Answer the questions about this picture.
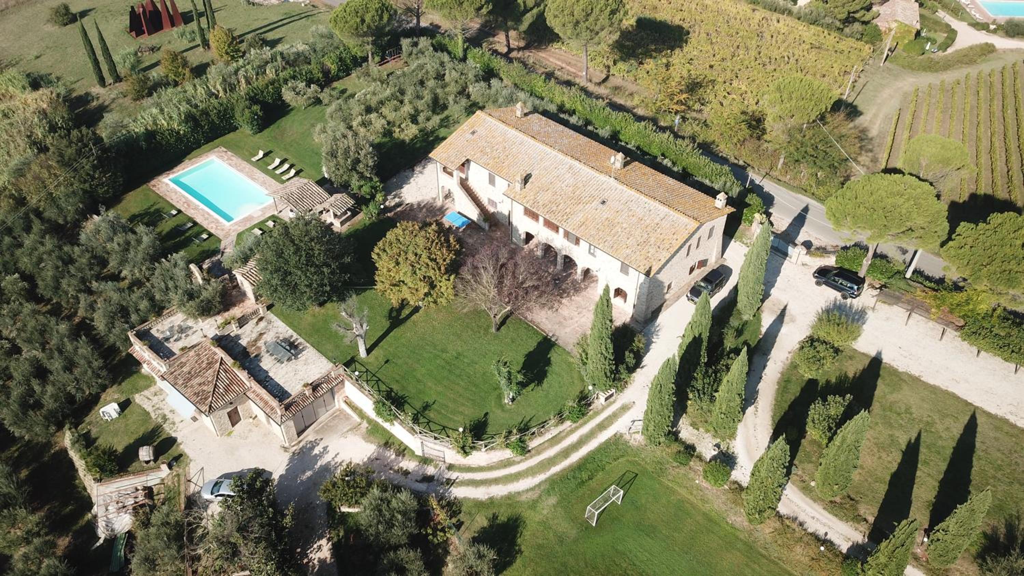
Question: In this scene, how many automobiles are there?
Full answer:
The photo contains 3 automobiles.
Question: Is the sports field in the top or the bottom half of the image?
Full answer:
The bottom half of the photo is where the sports field is.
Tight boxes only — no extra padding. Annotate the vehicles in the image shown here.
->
[199,480,260,511]
[808,261,869,298]
[687,264,732,306]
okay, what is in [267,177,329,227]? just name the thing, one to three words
building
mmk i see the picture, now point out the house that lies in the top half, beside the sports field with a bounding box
[428,102,737,319]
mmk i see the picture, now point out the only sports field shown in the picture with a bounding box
[395,454,807,576]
